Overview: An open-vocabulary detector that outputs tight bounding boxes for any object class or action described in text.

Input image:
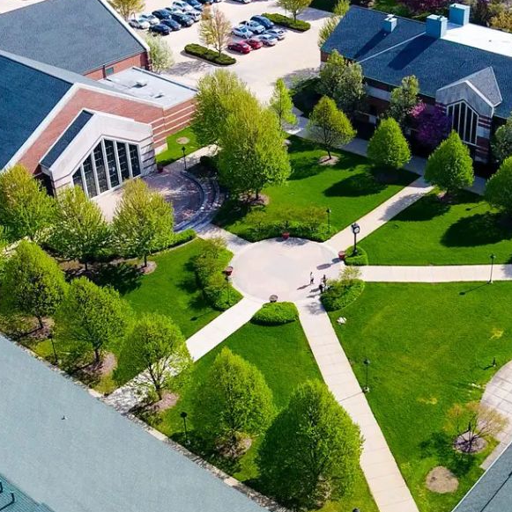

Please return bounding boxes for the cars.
[243,37,266,50]
[151,7,170,20]
[256,33,281,45]
[183,6,206,21]
[139,13,162,25]
[129,19,152,29]
[230,25,254,37]
[159,19,182,30]
[229,41,252,53]
[250,12,275,26]
[170,10,194,25]
[163,4,183,13]
[265,28,290,39]
[187,0,203,8]
[149,24,172,35]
